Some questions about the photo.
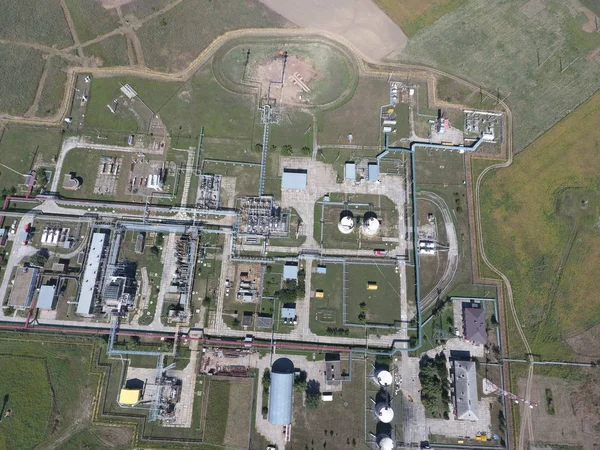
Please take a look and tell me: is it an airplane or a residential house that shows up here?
residential house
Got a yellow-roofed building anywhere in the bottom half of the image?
Yes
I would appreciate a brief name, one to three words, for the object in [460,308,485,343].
house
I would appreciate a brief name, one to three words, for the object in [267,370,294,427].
hangar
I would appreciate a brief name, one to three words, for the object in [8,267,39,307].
building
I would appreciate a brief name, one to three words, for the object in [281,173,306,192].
building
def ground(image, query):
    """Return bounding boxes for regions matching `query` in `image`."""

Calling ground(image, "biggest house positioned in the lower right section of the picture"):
[450,360,477,418]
